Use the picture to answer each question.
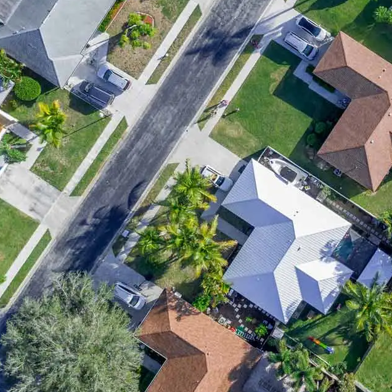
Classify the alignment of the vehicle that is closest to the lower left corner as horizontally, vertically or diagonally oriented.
diagonally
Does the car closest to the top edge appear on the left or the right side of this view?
right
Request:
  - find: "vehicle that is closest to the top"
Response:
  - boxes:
[295,13,331,45]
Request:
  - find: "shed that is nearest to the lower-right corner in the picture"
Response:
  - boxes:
[356,247,392,289]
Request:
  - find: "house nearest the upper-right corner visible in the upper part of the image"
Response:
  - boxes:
[313,30,392,192]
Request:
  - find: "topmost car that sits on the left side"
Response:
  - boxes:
[96,62,133,91]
